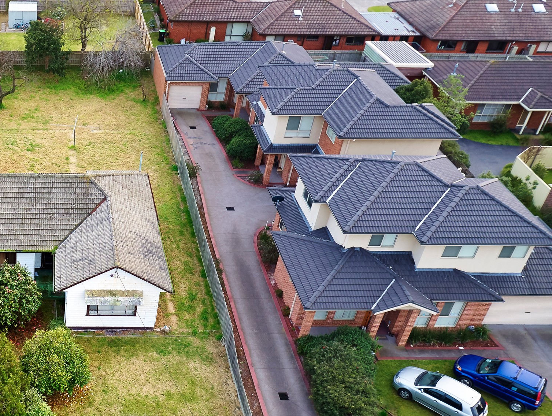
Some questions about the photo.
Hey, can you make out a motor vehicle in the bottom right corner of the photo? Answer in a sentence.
Yes, in the bottom right corner of the photo there is a motor vehicle.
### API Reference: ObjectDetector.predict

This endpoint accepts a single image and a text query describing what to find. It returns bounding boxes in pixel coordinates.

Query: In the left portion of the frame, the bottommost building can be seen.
[0,153,178,333]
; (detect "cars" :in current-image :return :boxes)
[449,355,552,415]
[392,369,491,416]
